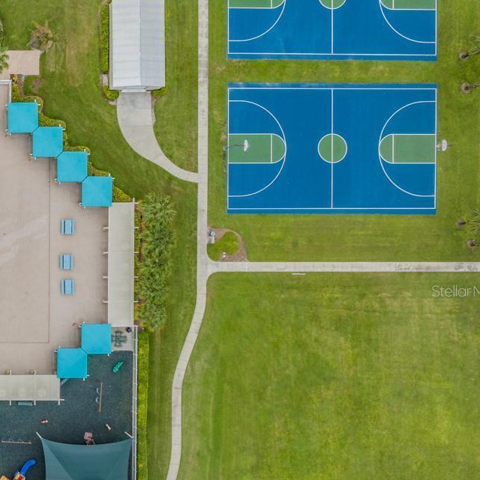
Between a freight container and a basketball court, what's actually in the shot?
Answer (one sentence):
Looking from above, you can make out a basketball court.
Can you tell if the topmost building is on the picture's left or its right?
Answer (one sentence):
You can find the topmost building on the left side of the picture.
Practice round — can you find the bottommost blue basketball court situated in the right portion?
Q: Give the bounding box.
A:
[227,83,437,214]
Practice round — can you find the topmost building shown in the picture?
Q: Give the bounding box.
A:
[110,0,169,94]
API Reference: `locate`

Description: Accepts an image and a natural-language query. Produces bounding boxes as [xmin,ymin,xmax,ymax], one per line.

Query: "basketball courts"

[227,0,437,60]
[227,83,437,214]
